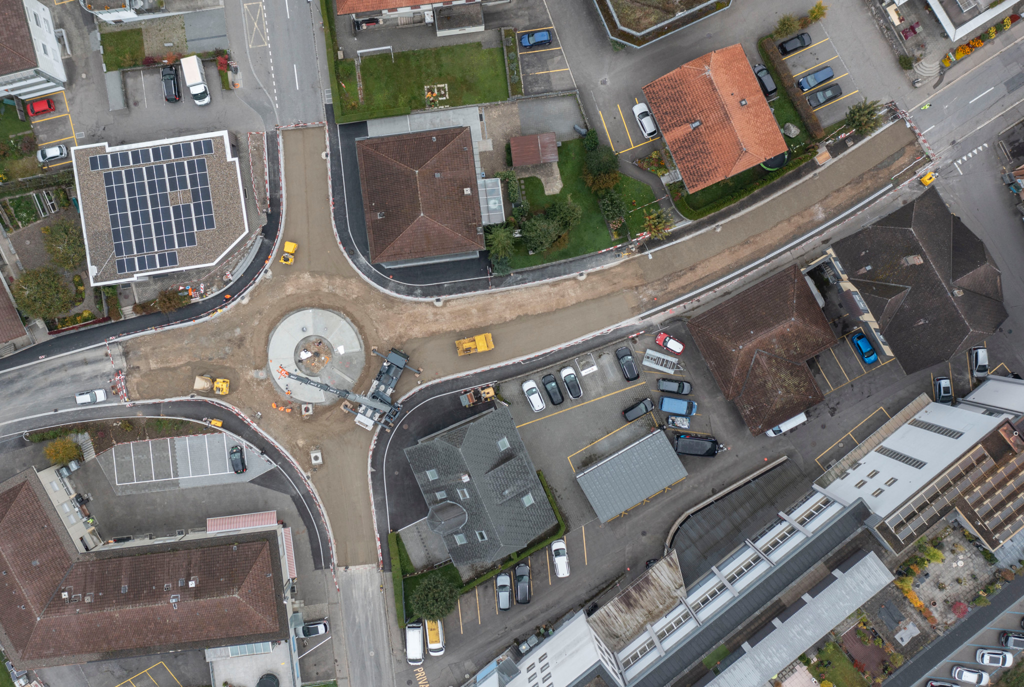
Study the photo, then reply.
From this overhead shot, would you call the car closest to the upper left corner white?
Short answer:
No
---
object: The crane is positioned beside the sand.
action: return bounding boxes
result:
[272,348,422,430]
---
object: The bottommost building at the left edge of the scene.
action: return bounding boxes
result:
[0,462,297,670]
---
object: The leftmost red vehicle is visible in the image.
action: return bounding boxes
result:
[25,97,58,117]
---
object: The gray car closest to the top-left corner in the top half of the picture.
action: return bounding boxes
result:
[35,143,71,163]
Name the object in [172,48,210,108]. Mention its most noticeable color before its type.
white truck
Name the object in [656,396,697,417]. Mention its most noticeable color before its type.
blue vehicle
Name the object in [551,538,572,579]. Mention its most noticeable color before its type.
white car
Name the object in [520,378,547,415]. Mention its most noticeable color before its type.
white car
